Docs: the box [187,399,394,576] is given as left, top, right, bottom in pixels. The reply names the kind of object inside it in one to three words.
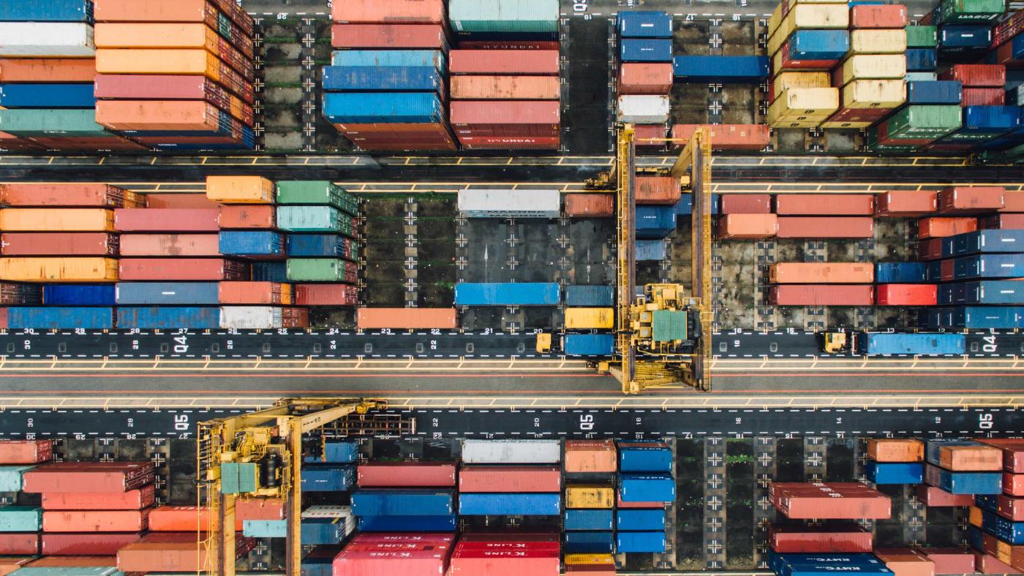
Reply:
container crane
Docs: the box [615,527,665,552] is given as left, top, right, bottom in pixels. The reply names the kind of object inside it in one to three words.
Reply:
shipping container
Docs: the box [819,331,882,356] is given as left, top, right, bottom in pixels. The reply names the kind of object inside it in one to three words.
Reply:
truck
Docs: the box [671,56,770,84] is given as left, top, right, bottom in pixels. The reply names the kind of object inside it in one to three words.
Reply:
shipping container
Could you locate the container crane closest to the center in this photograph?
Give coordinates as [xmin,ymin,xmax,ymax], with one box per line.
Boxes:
[582,123,716,395]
